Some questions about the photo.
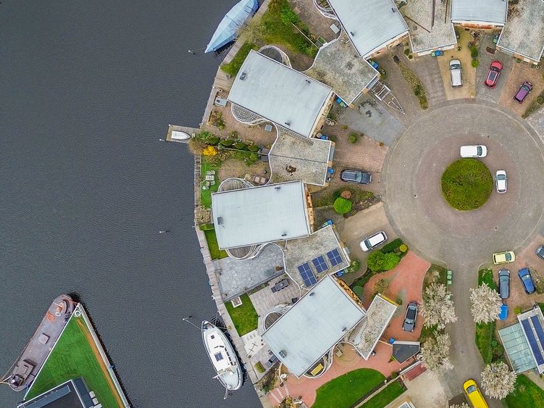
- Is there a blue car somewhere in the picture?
Yes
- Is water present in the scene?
Yes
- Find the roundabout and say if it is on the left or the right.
right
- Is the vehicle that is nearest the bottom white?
No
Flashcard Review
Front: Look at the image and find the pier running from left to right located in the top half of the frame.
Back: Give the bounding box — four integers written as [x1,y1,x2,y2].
[159,123,200,142]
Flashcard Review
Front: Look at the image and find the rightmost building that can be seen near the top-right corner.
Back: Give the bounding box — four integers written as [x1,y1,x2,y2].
[497,0,544,63]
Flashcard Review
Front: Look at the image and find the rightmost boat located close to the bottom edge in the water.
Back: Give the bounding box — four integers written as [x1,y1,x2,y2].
[188,312,241,403]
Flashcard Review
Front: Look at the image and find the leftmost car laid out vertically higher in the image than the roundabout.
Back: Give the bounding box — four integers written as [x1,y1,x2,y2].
[449,59,463,88]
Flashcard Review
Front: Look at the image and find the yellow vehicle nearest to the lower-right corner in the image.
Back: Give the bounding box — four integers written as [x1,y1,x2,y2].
[467,379,489,408]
